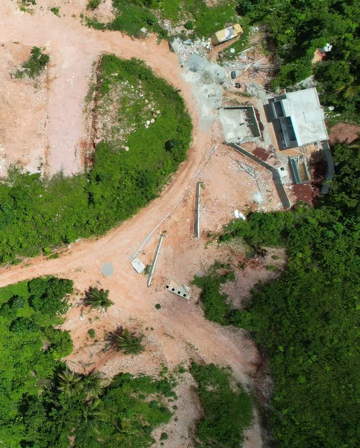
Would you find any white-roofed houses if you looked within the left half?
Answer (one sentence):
No, looking within the left half, there is no white-roofed house.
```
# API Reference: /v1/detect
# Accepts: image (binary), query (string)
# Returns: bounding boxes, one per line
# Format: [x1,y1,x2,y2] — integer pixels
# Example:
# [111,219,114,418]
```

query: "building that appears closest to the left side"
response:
[217,105,262,144]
